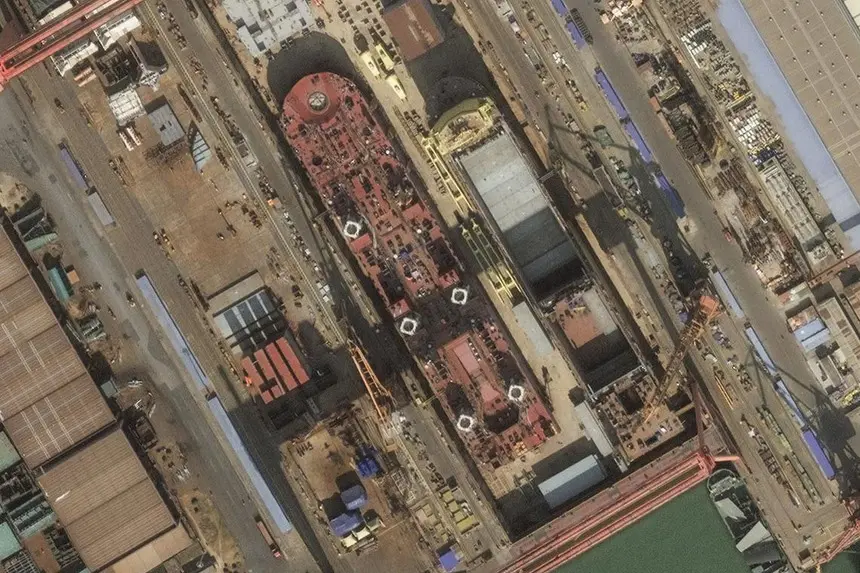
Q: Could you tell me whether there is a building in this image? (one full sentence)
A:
Yes, a building can be made out from above.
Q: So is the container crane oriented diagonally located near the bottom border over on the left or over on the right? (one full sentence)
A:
You can find the container crane oriented diagonally located near the bottom border on the right side of the picture.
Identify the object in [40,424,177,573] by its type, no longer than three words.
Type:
building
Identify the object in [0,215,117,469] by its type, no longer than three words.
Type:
building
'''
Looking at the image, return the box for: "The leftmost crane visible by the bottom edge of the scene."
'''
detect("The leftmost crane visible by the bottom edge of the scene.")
[496,365,750,573]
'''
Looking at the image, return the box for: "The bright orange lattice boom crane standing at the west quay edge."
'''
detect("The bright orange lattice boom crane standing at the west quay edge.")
[346,334,405,456]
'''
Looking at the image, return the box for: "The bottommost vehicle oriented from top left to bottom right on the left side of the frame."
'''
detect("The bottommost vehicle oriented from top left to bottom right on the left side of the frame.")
[255,520,281,557]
